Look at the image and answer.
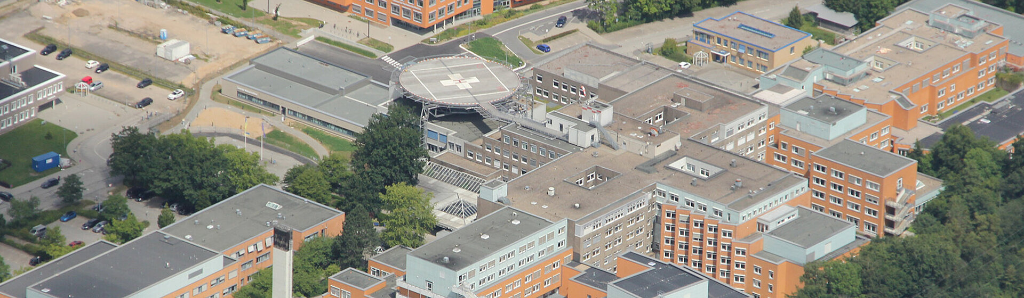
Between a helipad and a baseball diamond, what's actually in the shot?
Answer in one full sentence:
It is a helipad that can be seen here.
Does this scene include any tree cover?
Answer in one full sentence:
Yes, there's tree cover in this view.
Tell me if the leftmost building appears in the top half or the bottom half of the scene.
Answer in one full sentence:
The leftmost building is in the top half of the image.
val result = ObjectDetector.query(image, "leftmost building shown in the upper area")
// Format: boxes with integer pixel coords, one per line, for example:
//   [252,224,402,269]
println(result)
[0,38,68,133]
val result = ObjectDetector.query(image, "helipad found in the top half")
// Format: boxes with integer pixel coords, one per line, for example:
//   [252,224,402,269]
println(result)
[391,55,573,171]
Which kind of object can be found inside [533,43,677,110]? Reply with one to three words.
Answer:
building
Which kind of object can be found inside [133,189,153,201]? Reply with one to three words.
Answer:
vehicle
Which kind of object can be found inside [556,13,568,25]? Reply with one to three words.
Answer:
vehicle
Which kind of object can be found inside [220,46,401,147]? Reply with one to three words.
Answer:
building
